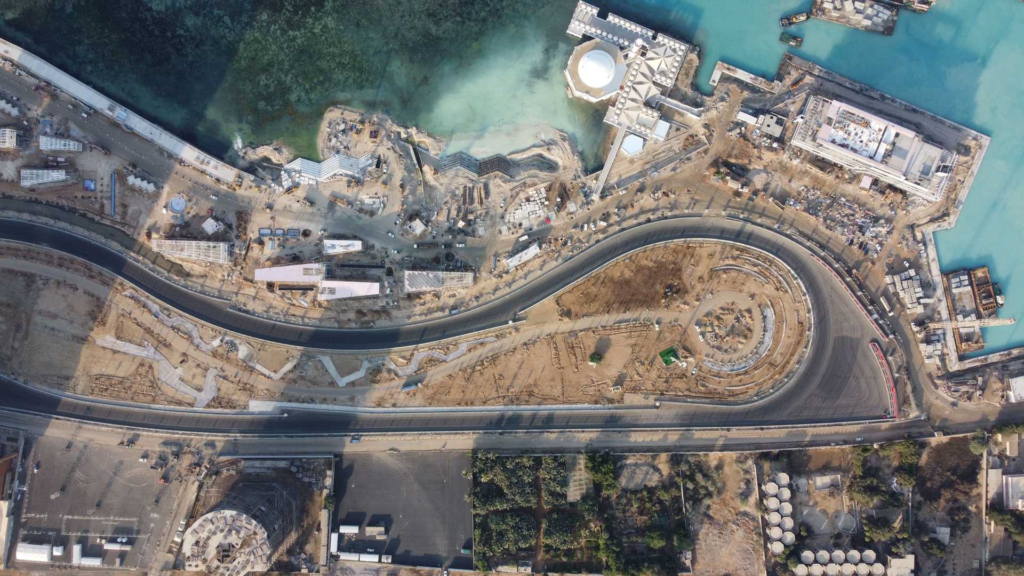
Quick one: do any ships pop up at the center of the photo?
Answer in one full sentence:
No, the scene shows no ship at the center of the photo.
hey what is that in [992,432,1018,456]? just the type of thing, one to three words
house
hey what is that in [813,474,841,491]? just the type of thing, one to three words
building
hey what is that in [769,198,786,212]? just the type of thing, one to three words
vehicle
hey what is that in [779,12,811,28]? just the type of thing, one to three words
boat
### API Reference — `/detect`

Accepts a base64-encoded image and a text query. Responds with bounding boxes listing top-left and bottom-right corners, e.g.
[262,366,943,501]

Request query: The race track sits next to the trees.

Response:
[0,216,902,435]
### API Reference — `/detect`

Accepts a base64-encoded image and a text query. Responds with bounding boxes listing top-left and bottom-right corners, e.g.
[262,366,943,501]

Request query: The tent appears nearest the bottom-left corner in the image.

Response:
[15,542,55,562]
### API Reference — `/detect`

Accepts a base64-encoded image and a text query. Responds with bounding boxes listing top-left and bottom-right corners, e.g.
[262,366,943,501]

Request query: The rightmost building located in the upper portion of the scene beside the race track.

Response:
[783,94,959,207]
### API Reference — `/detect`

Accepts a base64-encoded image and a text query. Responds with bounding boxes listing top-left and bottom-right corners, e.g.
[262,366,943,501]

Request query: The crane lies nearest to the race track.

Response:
[906,319,1017,342]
